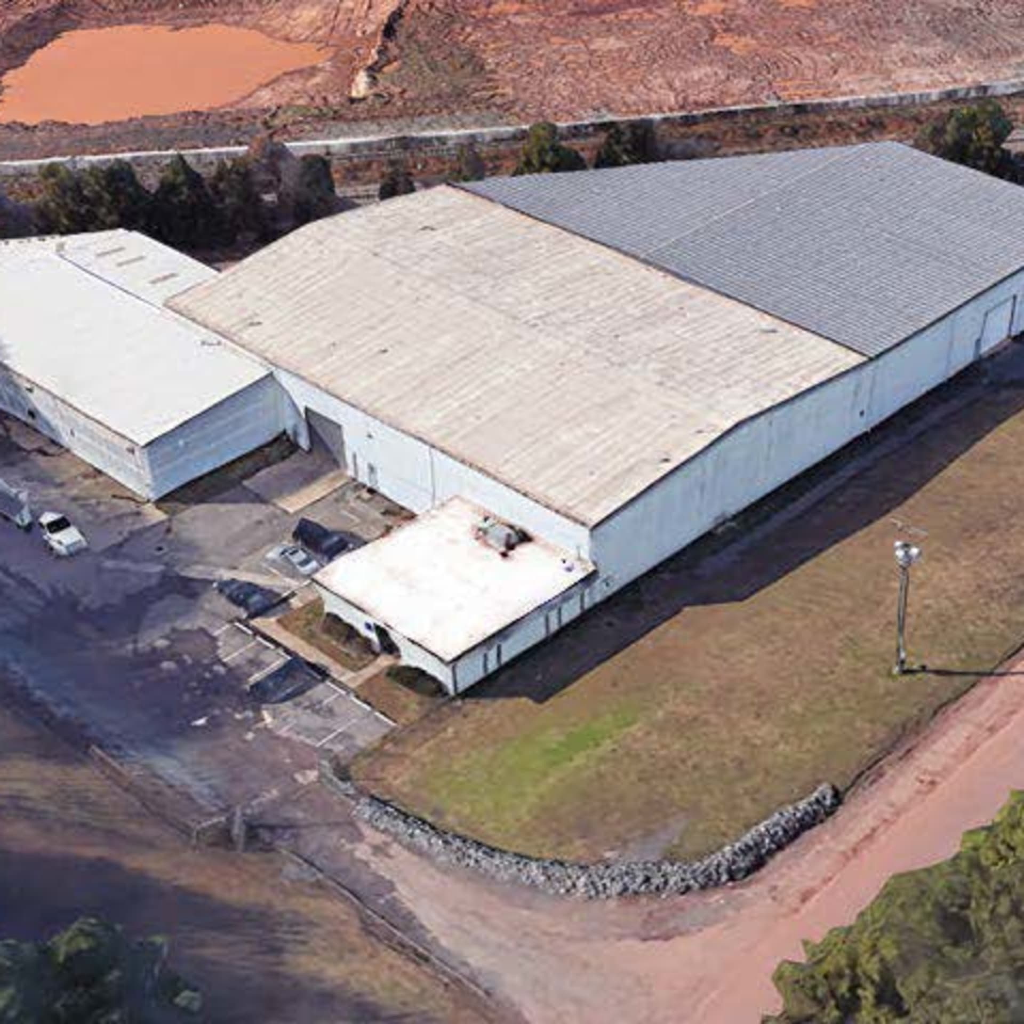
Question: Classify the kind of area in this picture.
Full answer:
This looks like an industrial area.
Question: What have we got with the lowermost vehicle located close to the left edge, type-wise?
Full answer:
I'd identify the lowermost vehicle located close to the left edge as a truck.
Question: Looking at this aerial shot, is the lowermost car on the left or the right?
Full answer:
You can find the lowermost car on the left side of the picture.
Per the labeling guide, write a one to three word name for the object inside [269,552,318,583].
car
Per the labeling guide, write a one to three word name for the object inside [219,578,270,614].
car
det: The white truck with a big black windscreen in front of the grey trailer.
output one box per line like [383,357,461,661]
[33,509,87,559]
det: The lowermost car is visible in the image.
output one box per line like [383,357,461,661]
[249,662,308,700]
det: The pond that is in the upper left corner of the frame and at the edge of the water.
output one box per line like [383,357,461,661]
[0,24,337,126]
